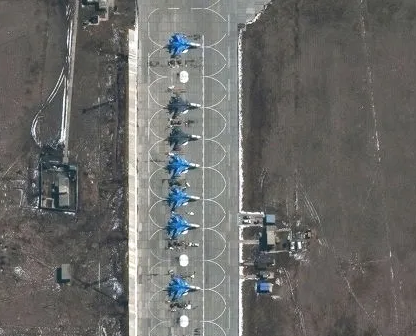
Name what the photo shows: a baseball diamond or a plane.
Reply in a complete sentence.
It is a plane that can be seen here.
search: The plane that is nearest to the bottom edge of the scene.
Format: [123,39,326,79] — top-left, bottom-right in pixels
[165,276,200,300]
